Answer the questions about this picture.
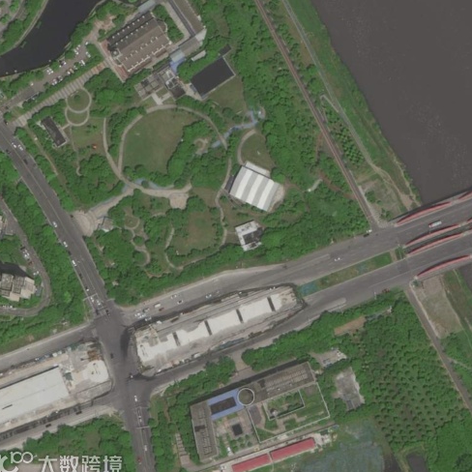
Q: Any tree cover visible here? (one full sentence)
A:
Yes, the picture does contain tree cover.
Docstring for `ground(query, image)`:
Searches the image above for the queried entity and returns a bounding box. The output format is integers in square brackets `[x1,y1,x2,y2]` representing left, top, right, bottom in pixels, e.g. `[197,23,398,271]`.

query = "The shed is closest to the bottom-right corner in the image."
[270,437,317,461]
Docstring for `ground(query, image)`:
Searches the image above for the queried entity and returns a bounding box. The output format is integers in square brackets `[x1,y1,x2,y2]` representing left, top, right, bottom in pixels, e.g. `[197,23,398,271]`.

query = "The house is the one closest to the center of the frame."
[235,220,264,252]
